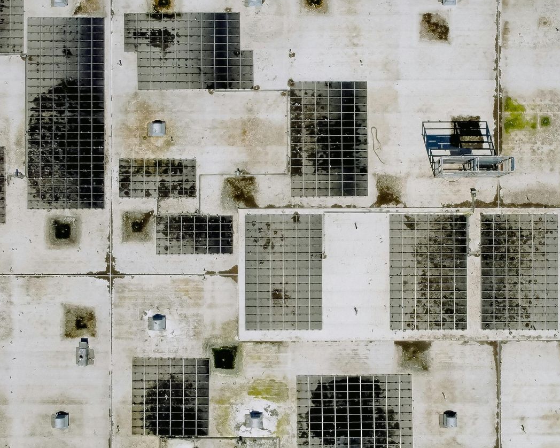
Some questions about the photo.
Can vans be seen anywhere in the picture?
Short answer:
No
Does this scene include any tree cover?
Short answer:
No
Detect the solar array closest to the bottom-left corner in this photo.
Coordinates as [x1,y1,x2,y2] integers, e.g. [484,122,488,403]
[131,357,210,435]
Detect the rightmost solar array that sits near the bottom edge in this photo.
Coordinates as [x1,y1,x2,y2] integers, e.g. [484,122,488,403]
[296,374,414,448]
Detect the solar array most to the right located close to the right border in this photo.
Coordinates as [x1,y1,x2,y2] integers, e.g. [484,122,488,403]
[481,212,560,330]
